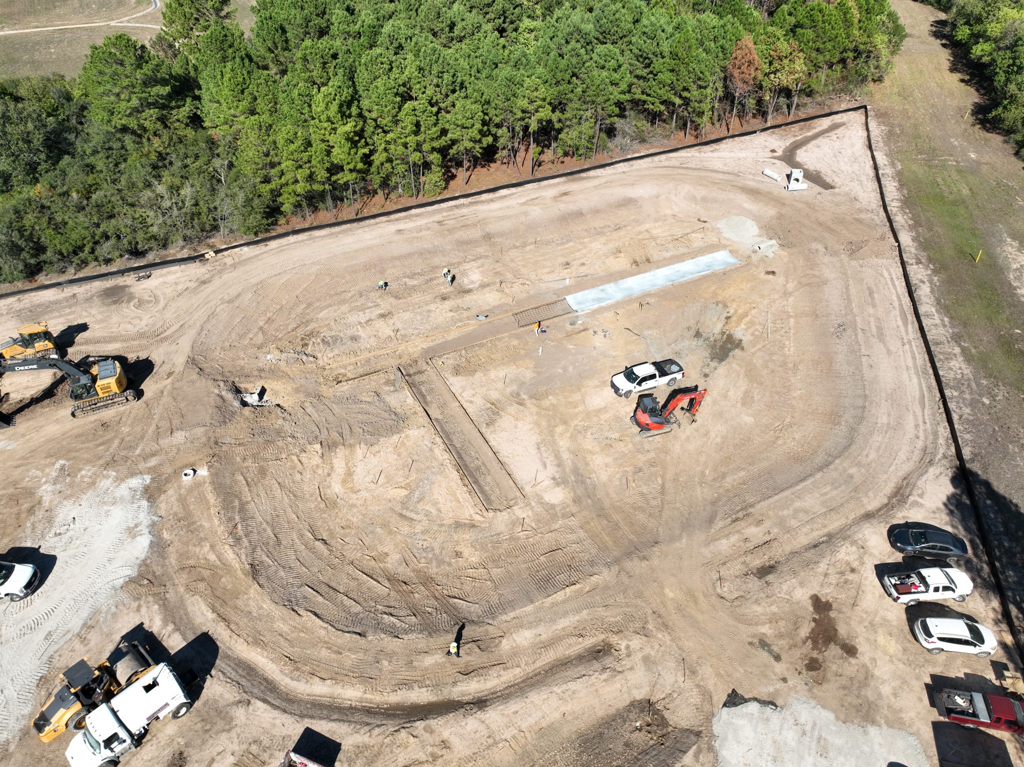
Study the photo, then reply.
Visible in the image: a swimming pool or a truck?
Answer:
truck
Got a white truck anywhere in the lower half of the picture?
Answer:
Yes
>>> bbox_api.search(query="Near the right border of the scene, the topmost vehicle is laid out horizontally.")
[891,524,973,563]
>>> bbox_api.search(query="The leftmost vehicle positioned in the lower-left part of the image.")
[0,557,45,602]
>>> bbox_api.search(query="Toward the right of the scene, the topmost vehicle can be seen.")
[606,356,686,399]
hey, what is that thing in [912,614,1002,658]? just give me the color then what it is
white car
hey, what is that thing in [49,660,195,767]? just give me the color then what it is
white truck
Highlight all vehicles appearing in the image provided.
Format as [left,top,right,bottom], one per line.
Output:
[0,353,141,432]
[891,524,973,563]
[633,382,711,437]
[606,356,686,399]
[933,683,1024,735]
[912,614,1002,658]
[0,557,45,602]
[0,314,72,368]
[49,660,195,767]
[883,562,979,606]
